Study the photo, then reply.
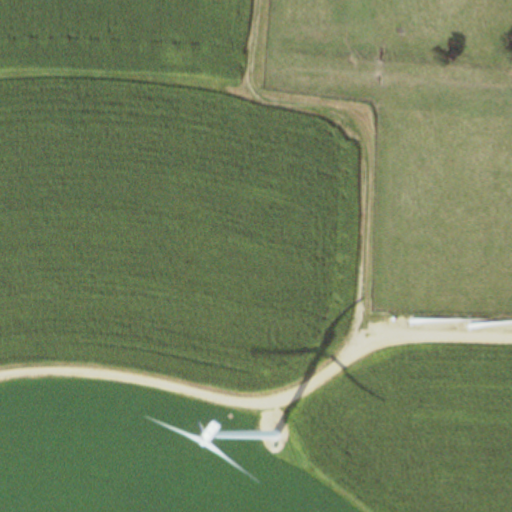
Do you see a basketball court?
No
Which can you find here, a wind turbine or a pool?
wind turbine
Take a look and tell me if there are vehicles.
No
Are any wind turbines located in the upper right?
No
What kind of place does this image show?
farmland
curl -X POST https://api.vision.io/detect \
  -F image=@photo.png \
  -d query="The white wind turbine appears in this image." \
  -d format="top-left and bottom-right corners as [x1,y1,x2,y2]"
[148,417,282,485]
